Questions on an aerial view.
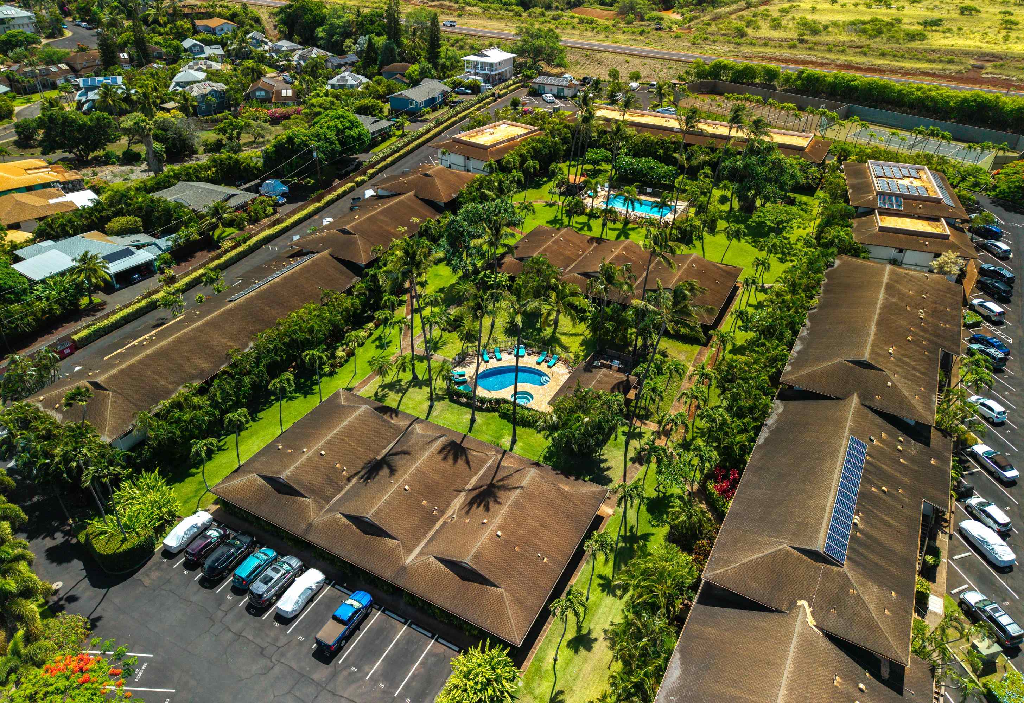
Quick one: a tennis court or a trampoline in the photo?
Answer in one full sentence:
This aerial view contains a tennis court.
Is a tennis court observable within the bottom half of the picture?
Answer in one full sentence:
No, I can find no tennis court within the bottom half of the picture.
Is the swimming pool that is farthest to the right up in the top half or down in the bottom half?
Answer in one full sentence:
You can find the swimming pool that is farthest to the right in the top half.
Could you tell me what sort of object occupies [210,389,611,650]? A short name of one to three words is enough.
building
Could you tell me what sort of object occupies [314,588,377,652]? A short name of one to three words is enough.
truck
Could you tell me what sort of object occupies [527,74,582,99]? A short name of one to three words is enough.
house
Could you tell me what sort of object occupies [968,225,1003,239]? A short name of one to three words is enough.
car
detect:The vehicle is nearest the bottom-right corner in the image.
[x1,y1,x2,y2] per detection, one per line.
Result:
[957,591,1024,648]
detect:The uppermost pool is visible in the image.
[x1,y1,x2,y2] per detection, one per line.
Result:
[581,187,685,224]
